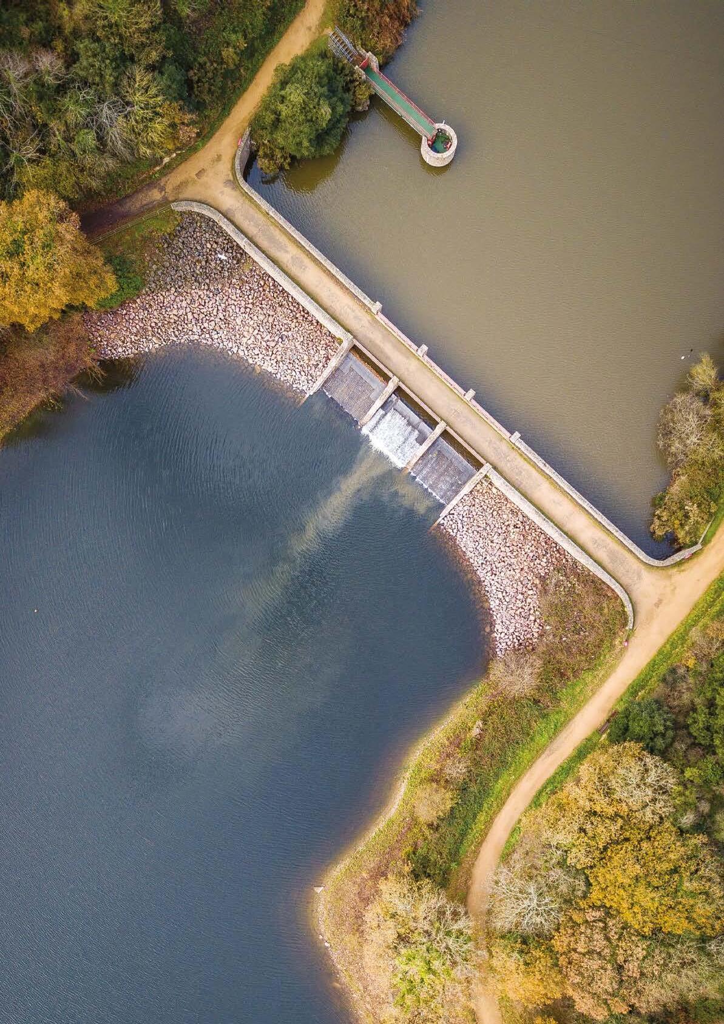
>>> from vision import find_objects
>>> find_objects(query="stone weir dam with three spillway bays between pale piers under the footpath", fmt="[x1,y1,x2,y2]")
[306,296,527,521]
